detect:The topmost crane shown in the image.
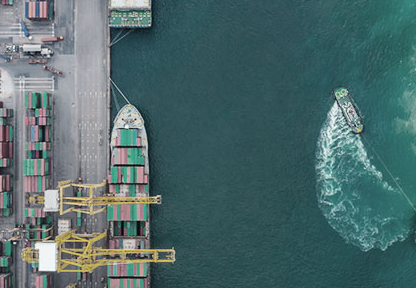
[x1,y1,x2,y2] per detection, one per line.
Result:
[29,177,163,216]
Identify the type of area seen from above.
port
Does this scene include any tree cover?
No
